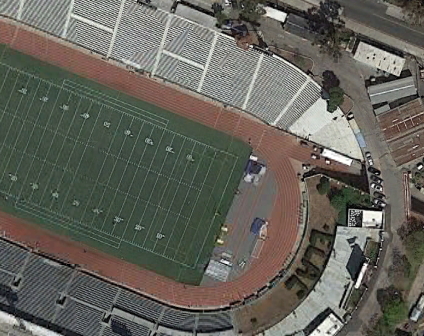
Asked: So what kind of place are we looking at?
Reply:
sports ground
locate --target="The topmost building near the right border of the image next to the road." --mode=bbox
[354,42,405,76]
